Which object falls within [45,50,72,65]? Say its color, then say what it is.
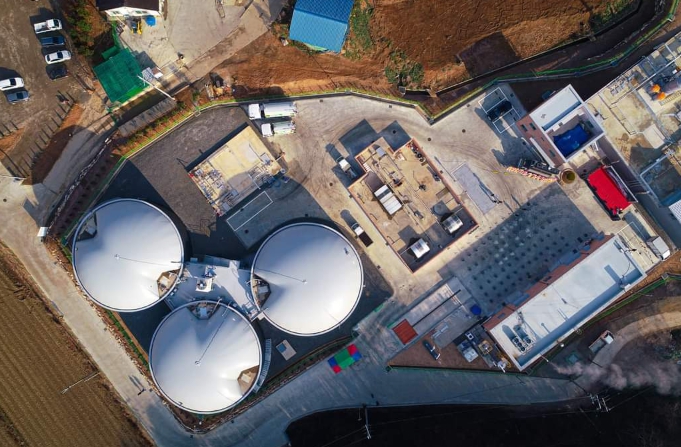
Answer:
white car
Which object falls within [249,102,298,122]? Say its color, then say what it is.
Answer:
white vehicle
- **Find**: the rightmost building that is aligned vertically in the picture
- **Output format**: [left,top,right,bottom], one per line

[582,27,681,241]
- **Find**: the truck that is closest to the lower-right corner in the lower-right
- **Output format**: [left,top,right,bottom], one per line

[587,331,616,356]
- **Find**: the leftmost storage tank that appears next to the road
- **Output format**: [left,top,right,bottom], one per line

[72,198,197,310]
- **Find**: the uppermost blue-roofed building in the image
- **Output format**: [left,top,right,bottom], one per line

[289,0,358,53]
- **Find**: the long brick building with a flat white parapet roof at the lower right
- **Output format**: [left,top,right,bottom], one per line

[479,226,646,371]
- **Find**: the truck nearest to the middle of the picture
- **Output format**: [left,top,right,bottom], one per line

[349,222,376,249]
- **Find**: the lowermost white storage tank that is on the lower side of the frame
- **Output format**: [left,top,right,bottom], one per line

[150,298,273,413]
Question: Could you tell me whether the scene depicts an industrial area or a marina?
industrial area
